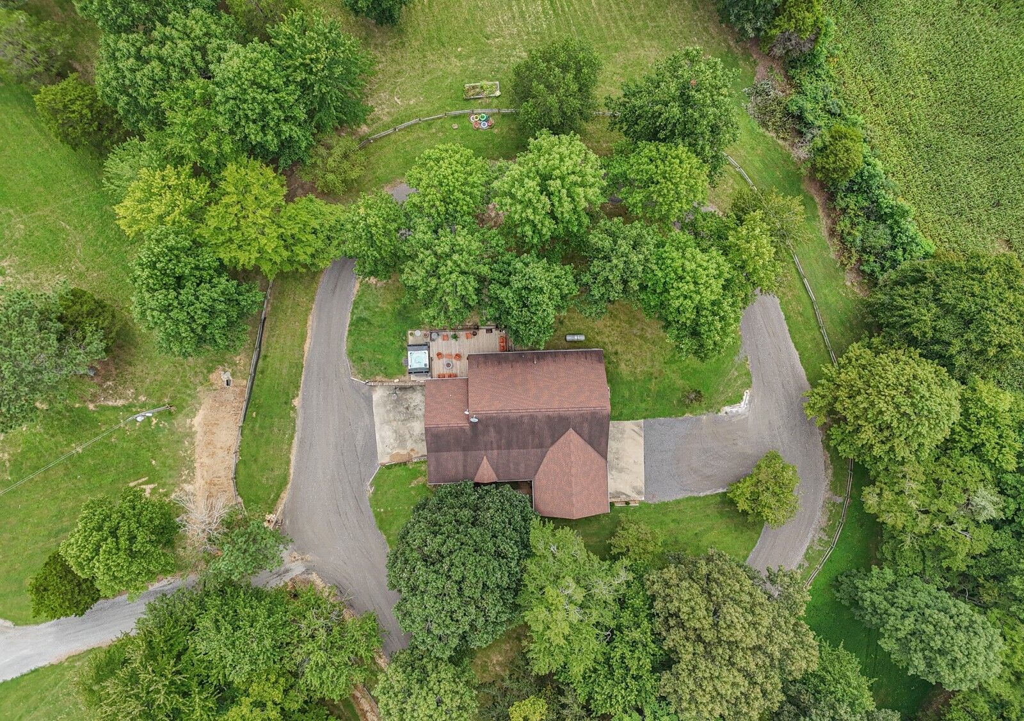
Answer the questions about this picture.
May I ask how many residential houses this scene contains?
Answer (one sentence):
I count just 1 residential house.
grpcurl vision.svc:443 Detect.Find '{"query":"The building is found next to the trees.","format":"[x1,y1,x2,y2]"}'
[423,348,611,519]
